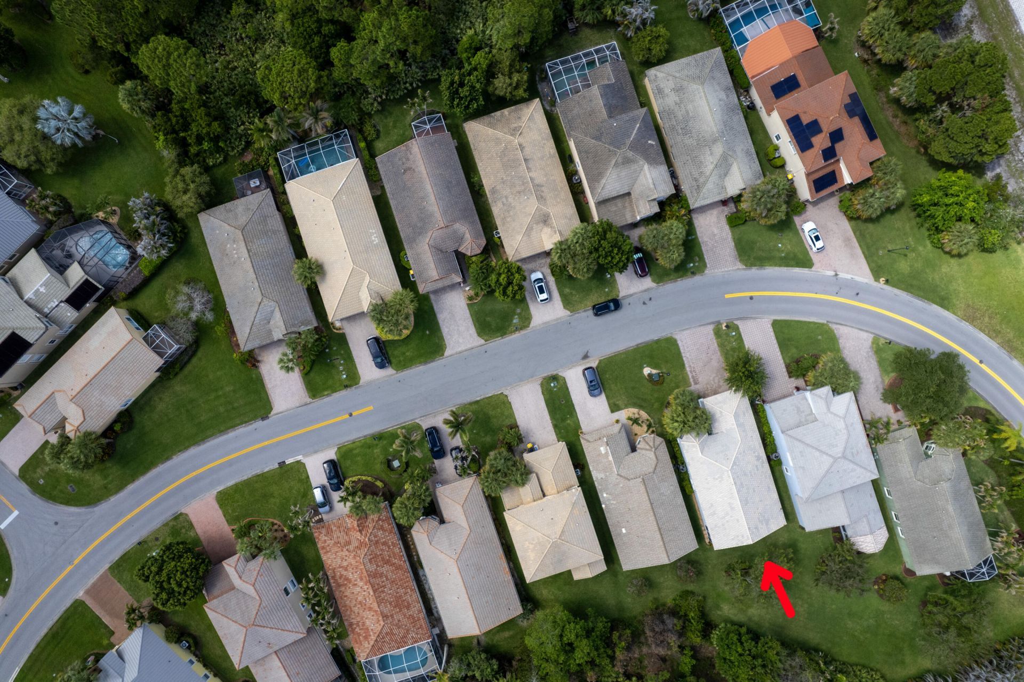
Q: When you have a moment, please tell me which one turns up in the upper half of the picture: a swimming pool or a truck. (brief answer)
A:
swimming pool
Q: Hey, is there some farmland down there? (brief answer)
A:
No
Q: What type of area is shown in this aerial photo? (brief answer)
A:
residential area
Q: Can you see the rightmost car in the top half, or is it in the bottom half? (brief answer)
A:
top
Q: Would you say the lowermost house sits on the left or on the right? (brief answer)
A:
left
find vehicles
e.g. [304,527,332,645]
[581,365,602,398]
[629,246,651,280]
[530,270,551,304]
[365,335,392,368]
[311,483,333,514]
[589,298,623,317]
[799,220,825,253]
[321,458,345,492]
[423,425,446,459]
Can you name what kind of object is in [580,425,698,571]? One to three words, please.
house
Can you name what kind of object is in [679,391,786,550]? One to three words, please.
house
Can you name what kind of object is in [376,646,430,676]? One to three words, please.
swimming pool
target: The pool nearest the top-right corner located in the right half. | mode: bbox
[727,0,820,49]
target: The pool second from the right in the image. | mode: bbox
[551,55,615,96]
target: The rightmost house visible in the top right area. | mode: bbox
[741,20,887,201]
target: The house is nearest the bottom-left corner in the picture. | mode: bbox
[84,620,238,682]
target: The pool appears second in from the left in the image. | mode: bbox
[288,147,353,180]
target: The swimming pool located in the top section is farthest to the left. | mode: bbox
[74,228,132,272]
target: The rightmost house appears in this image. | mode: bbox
[867,426,993,575]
